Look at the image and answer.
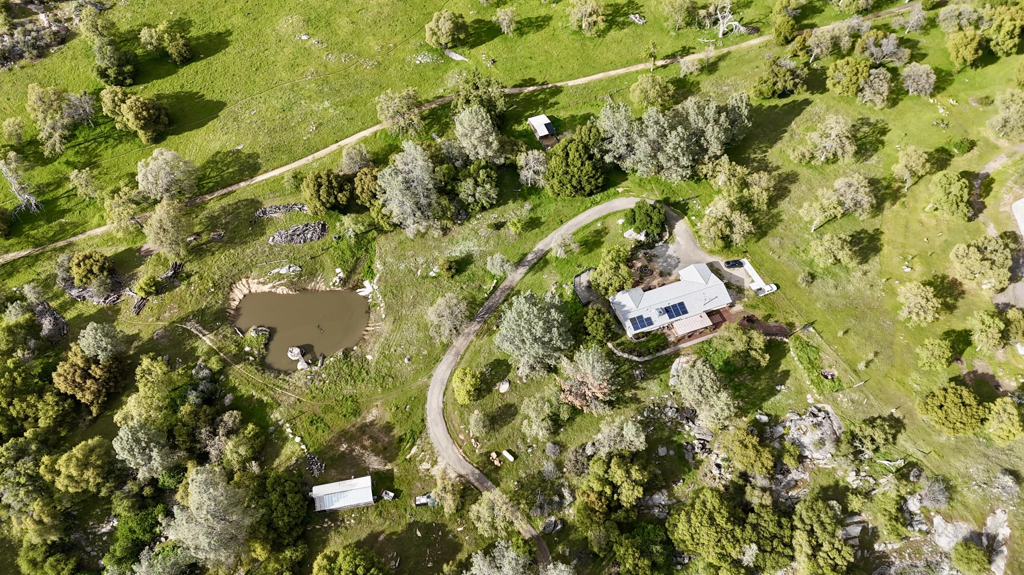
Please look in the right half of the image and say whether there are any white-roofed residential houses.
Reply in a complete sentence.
Yes, a white-roofed residential house shows up in the right half of the image.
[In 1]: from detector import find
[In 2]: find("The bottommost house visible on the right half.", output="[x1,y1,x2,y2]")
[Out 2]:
[611,264,733,340]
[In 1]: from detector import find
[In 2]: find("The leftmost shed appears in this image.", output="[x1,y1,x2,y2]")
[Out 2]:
[313,476,375,515]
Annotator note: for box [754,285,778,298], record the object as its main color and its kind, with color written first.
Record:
white vehicle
